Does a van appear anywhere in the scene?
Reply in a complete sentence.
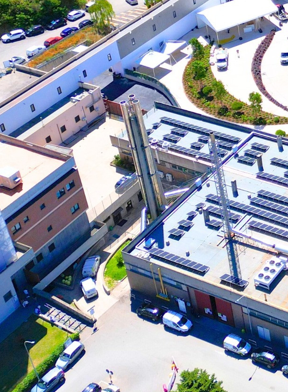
Yes, this view includes a van.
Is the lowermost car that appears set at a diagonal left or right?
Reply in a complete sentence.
The lowermost car that appears set at a diagonal appears in the left half of the scene.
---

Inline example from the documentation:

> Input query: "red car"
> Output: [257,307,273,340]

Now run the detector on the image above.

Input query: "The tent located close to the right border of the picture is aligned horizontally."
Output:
[197,0,279,45]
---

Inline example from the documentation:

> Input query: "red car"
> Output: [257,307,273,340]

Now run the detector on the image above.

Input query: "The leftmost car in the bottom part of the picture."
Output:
[32,366,67,392]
